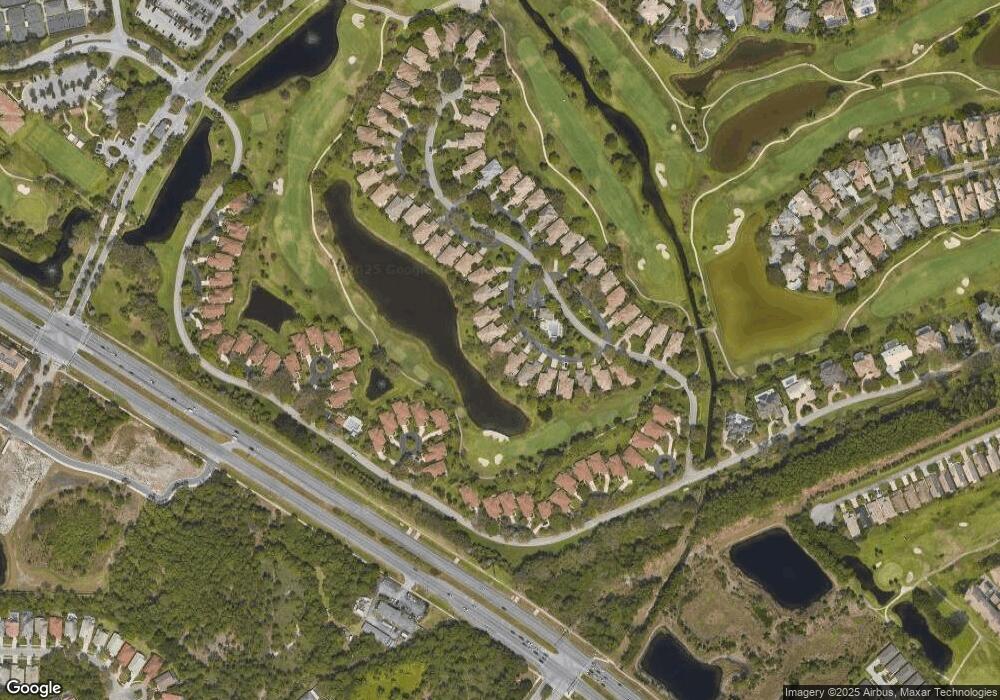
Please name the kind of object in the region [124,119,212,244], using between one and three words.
pond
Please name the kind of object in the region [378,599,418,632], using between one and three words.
building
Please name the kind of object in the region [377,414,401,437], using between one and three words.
house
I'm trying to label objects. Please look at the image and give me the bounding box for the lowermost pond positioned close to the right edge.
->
[894,602,952,671]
